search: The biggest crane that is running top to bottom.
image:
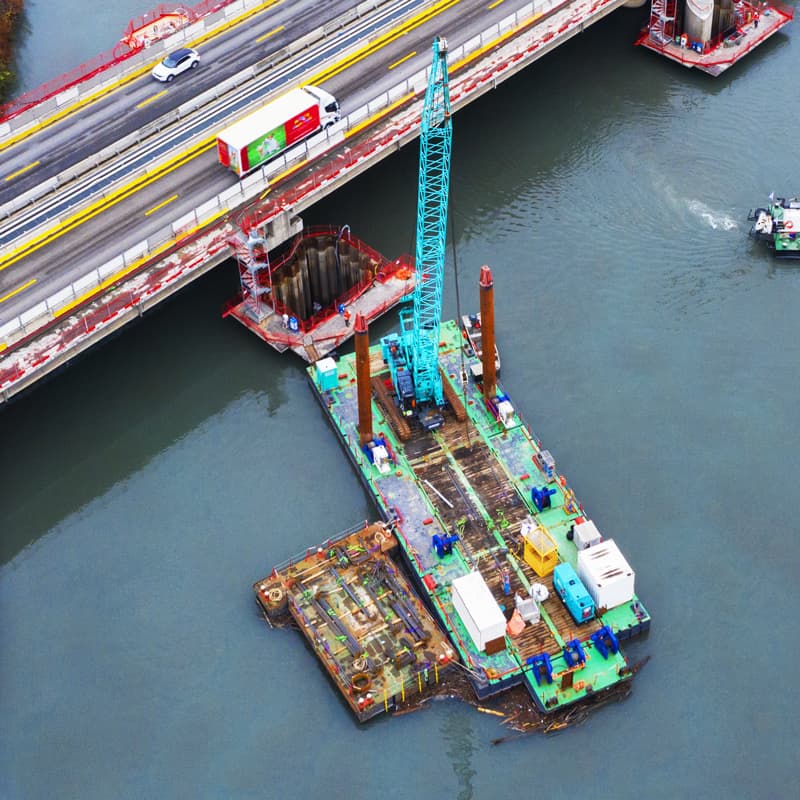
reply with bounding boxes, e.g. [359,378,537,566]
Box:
[371,27,472,452]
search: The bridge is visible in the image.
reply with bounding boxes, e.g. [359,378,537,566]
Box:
[0,0,655,405]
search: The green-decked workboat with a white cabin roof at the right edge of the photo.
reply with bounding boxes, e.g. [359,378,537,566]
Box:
[746,188,800,260]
